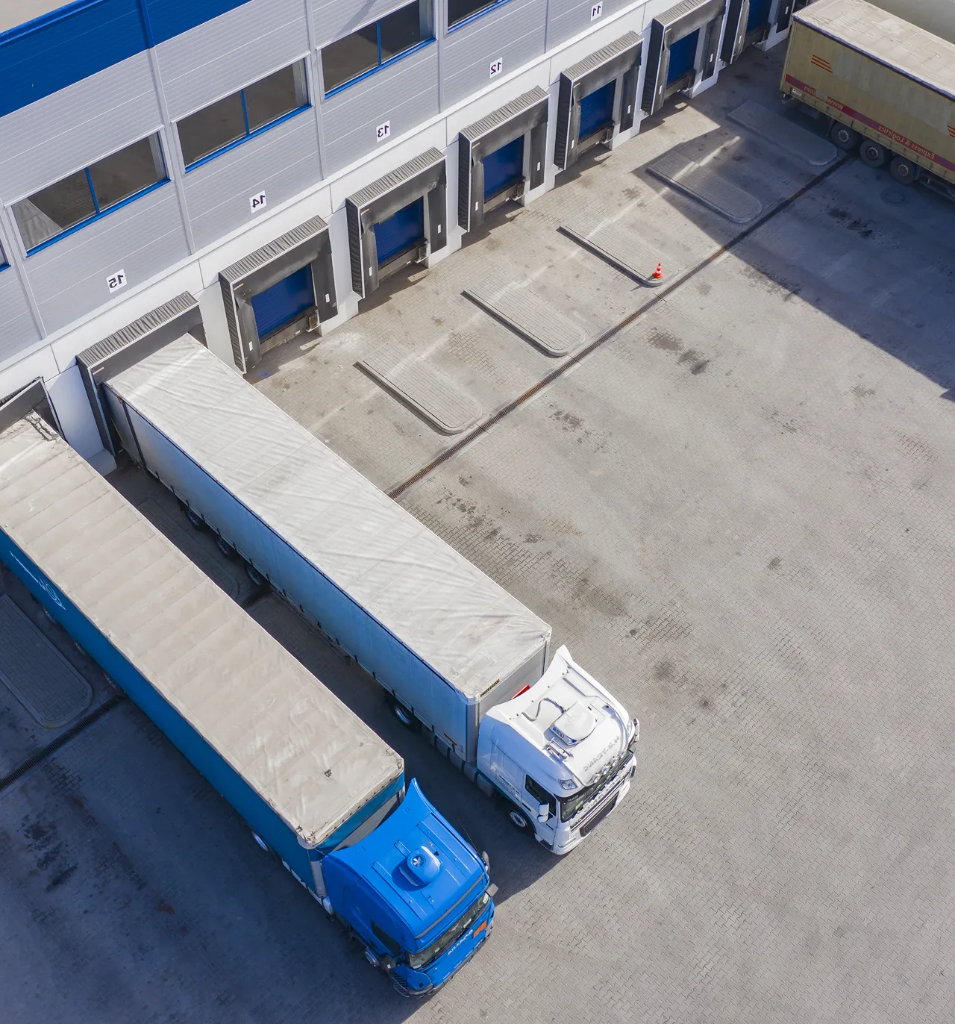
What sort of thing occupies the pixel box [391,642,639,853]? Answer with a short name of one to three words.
truck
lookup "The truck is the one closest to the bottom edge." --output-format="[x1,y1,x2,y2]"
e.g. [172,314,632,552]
[321,777,497,1006]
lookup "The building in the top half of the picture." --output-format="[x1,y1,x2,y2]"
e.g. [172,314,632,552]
[0,0,813,460]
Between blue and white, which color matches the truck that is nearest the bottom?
blue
